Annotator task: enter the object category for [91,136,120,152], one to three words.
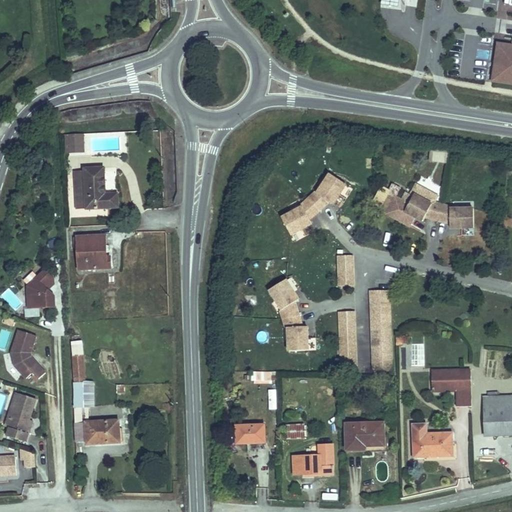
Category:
swimming pool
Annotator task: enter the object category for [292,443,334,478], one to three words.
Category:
house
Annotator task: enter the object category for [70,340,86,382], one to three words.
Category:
building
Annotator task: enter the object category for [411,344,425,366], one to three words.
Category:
greenhouse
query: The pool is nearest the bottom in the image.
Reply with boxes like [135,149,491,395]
[376,461,388,482]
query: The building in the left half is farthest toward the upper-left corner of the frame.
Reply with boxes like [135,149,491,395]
[65,134,84,152]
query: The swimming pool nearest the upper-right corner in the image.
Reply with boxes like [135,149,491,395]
[430,150,448,163]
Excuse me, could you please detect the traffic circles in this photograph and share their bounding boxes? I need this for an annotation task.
[162,22,268,127]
